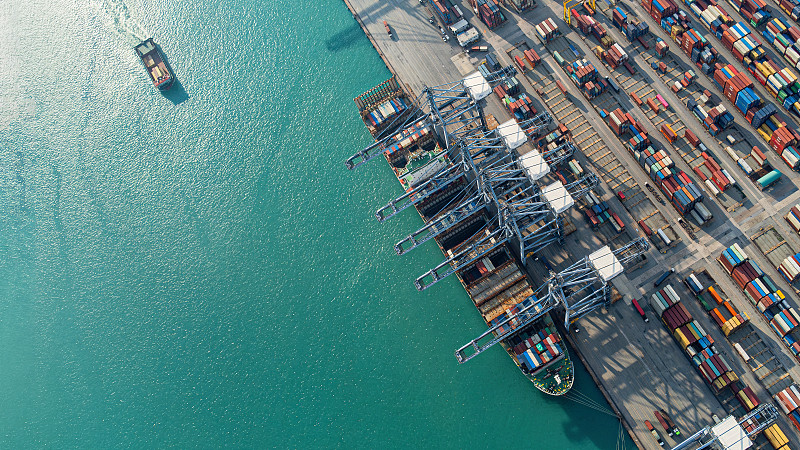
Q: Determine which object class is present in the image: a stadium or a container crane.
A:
container crane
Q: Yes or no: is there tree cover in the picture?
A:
No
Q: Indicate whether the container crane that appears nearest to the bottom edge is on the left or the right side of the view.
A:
right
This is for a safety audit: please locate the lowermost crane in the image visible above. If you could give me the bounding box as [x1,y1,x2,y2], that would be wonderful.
[675,402,784,450]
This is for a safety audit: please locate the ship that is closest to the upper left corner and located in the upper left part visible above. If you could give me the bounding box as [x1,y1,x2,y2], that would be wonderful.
[131,34,177,96]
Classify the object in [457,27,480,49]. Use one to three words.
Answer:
building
